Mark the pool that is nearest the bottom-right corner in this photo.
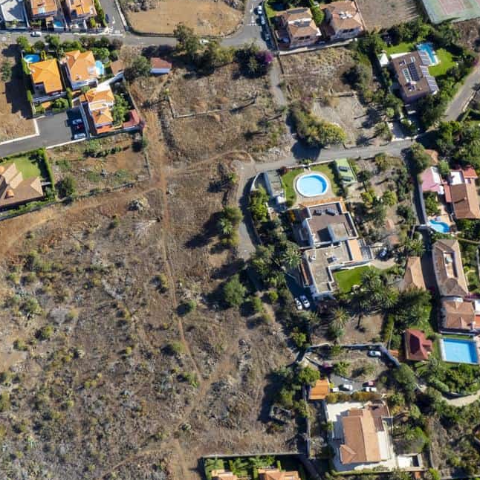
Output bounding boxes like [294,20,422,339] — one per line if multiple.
[439,338,479,365]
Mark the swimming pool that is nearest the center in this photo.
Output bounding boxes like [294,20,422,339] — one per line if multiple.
[295,161,337,200]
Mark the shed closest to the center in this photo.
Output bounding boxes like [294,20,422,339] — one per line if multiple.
[265,169,287,207]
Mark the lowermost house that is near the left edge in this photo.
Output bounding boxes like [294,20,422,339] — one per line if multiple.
[0,162,44,207]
